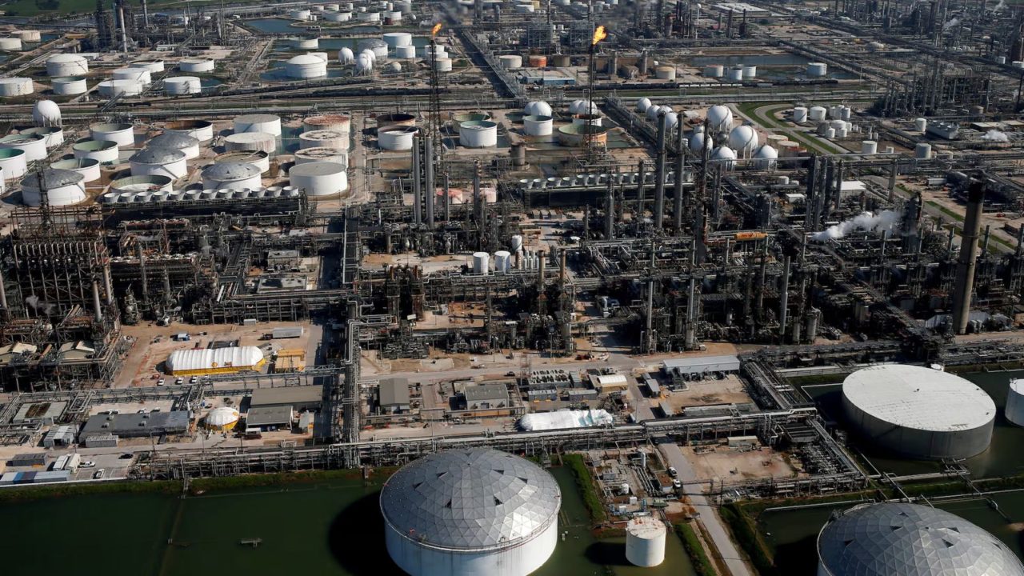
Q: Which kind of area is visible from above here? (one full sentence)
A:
The area seen from above is an industrial area.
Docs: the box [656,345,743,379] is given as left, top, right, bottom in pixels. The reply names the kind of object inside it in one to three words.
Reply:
building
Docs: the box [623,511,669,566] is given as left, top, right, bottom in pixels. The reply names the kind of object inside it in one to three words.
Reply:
storage tank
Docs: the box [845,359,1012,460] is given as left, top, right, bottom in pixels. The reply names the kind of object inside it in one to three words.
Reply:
storage tank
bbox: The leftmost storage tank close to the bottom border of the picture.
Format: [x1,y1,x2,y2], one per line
[377,450,564,576]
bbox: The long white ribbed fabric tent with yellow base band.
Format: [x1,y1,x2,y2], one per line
[168,346,272,375]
